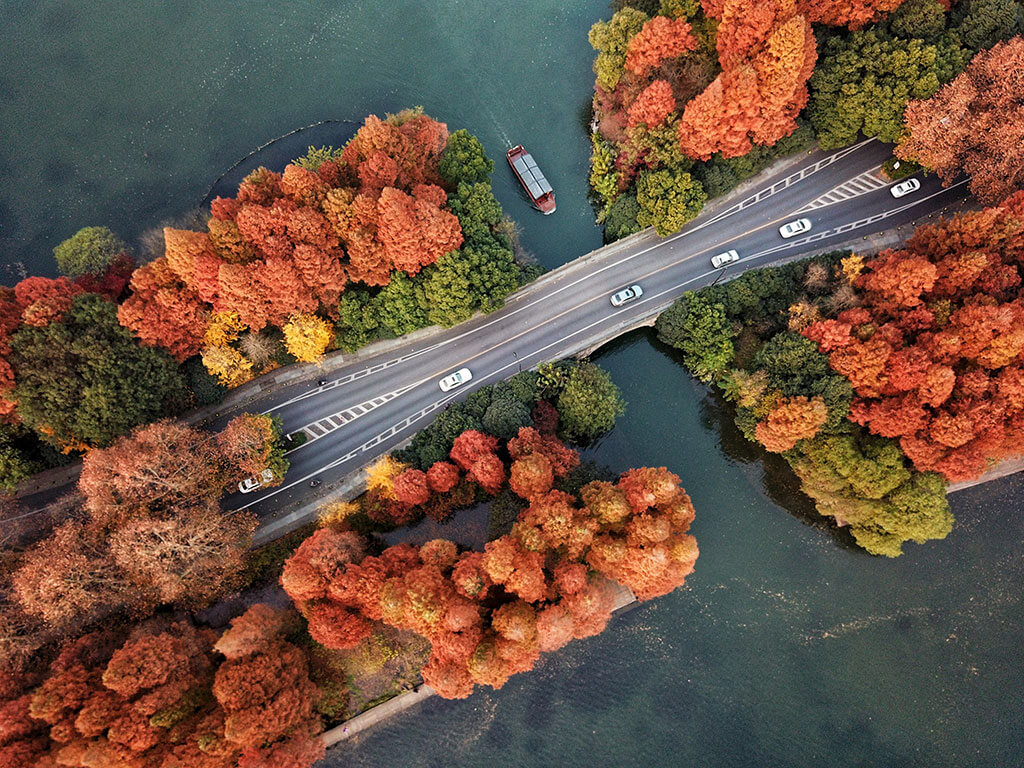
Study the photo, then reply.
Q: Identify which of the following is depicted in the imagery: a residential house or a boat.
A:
boat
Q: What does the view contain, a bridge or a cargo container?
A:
bridge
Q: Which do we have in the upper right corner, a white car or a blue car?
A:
white car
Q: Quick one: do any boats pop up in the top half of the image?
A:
Yes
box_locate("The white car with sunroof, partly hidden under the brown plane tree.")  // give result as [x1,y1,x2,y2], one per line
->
[236,468,273,493]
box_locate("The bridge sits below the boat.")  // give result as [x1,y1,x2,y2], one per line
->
[510,224,668,368]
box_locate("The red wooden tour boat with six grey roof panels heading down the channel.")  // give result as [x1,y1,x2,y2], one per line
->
[505,143,553,215]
